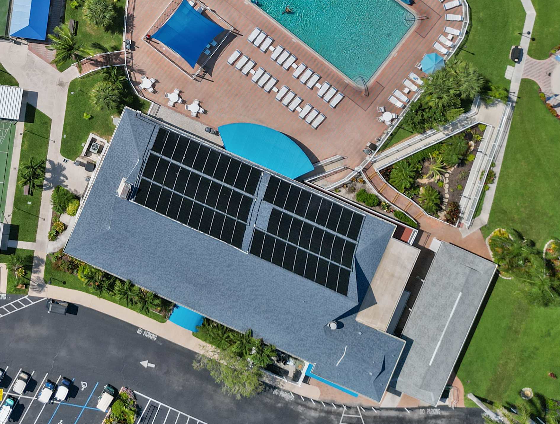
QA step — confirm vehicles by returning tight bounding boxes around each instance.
[38,377,55,405]
[45,297,68,314]
[54,375,72,401]
[98,383,114,408]
[13,369,30,394]
[0,395,16,424]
